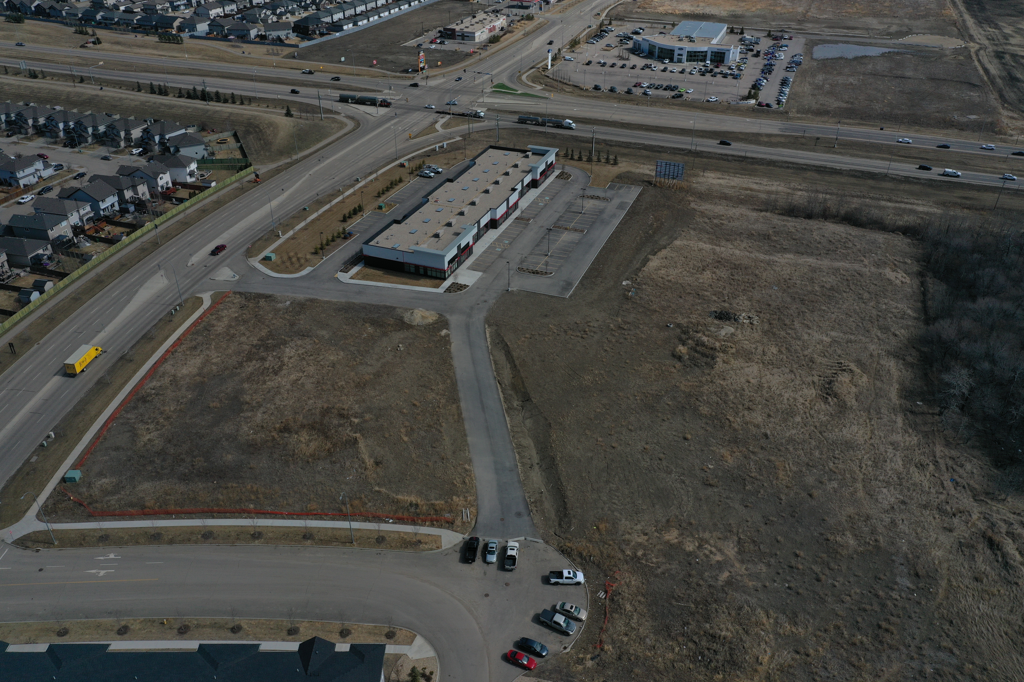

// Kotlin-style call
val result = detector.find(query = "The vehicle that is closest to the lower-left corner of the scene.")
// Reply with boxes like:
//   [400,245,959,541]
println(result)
[62,344,103,377]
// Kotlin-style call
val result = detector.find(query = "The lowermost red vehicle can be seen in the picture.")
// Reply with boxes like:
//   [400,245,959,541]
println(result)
[504,646,538,671]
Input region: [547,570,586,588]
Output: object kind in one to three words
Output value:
vehicle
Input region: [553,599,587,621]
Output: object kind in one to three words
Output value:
car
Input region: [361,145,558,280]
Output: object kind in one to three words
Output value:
building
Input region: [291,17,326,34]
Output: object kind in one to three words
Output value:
house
